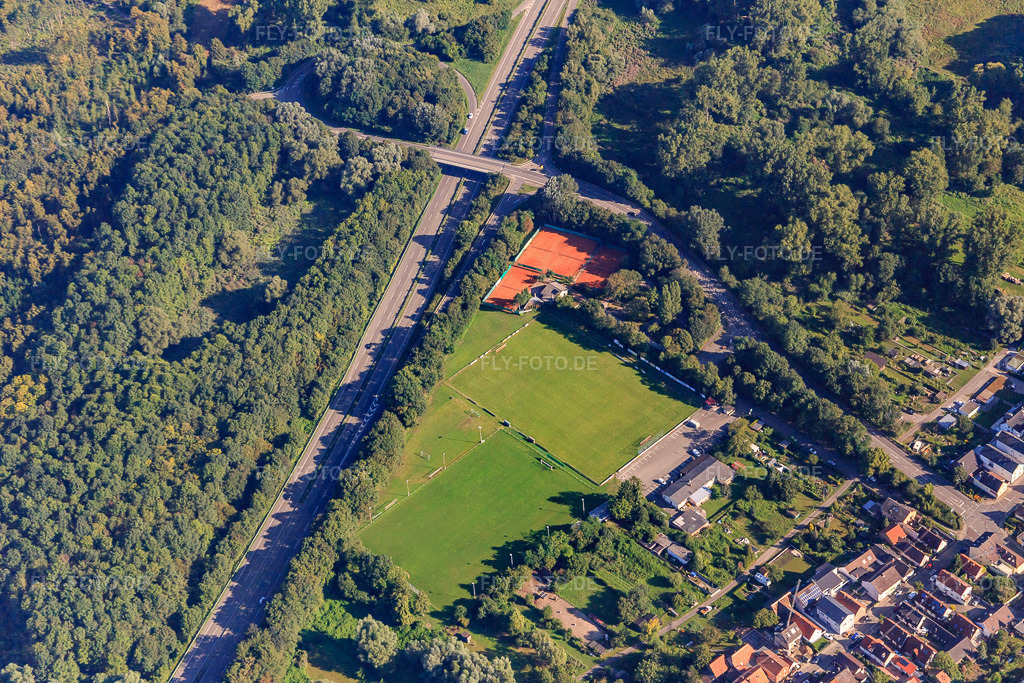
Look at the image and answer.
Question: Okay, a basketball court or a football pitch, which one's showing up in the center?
football pitch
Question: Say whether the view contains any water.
No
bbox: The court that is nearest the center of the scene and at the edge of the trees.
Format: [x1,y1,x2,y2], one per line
[485,266,546,311]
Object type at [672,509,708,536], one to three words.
house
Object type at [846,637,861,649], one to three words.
vehicle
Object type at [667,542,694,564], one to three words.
shed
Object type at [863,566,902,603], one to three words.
house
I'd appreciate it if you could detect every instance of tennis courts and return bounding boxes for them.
[518,230,571,272]
[546,237,599,280]
[575,247,627,288]
[485,266,546,311]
